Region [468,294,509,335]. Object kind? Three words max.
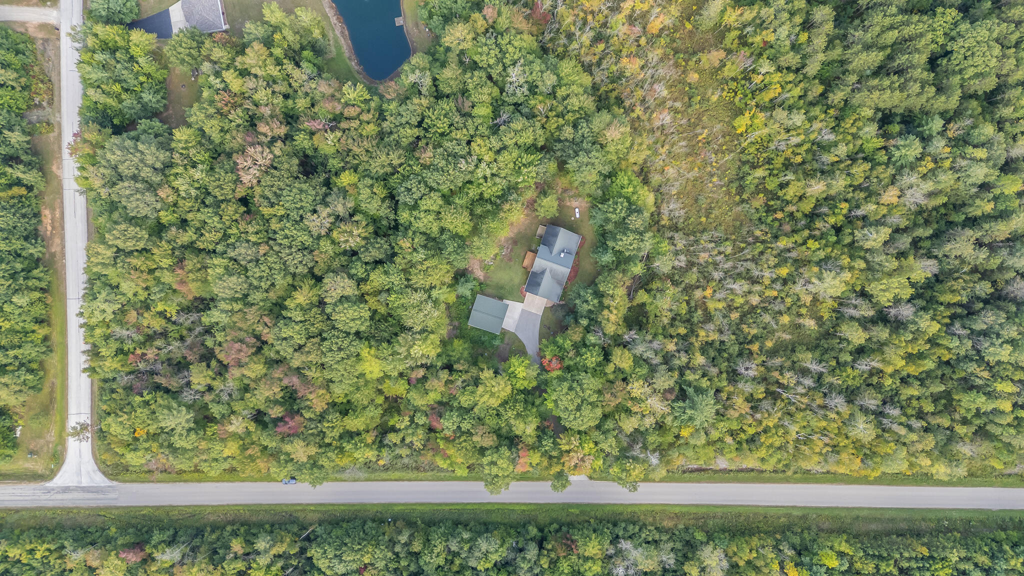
building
